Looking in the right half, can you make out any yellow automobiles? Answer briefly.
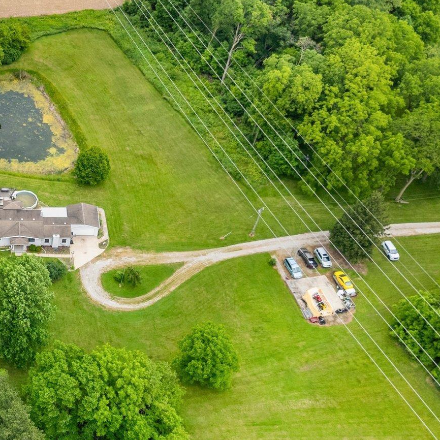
Yes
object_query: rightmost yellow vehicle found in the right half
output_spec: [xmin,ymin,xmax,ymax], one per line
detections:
[338,272,356,290]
